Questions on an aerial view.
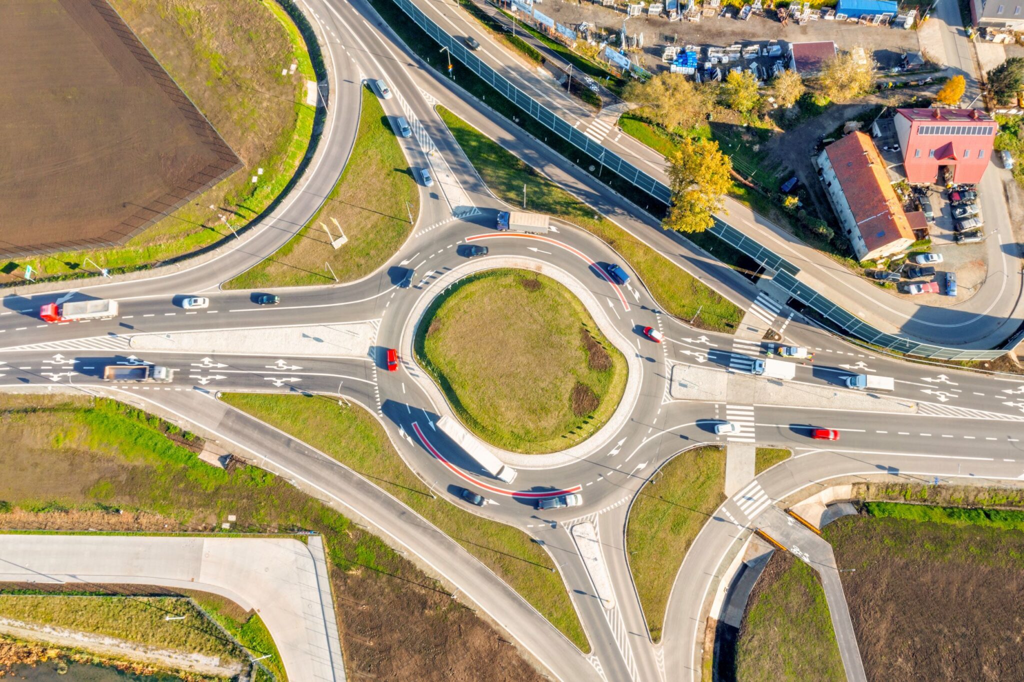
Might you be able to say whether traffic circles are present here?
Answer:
Yes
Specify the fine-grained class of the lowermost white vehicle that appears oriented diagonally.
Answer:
truck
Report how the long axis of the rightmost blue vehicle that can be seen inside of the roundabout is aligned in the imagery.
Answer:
on a diagonal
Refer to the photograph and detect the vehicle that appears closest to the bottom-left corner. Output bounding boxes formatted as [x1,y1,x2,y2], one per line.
[98,365,170,384]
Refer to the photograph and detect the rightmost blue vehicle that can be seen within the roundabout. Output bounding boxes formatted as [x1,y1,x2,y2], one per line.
[607,265,631,286]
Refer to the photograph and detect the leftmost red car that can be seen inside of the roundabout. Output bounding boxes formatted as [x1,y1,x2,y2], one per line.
[385,349,398,371]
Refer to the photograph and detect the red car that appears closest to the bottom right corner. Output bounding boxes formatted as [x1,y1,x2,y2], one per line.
[811,428,839,441]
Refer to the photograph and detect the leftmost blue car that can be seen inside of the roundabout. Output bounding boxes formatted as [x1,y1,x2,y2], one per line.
[400,269,416,288]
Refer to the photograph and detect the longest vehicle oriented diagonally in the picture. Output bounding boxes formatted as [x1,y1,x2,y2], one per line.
[433,417,515,486]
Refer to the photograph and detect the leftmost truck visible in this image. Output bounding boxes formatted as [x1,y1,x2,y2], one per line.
[32,301,119,326]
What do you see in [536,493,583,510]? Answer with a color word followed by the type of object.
white vehicle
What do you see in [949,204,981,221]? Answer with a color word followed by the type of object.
white car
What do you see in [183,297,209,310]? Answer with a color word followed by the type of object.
white vehicle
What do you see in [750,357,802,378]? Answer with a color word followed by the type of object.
white truck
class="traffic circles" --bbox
[374,209,726,531]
